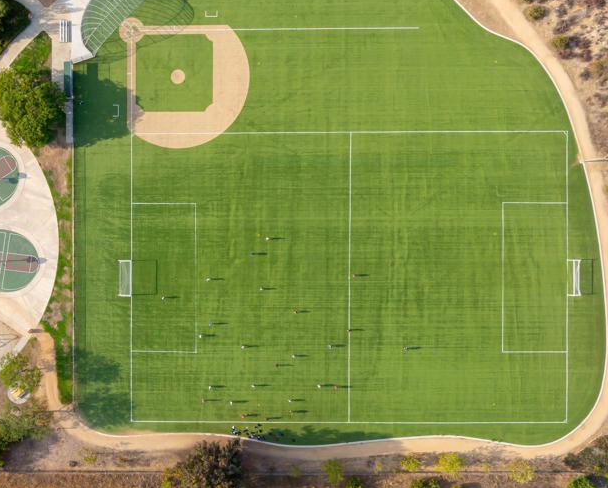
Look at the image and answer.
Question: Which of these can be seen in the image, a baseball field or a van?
baseball field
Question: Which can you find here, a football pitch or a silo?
football pitch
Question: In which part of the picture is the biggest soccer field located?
center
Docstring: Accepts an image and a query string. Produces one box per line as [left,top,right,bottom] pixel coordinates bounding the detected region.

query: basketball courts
[0,150,19,208]
[0,229,39,292]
